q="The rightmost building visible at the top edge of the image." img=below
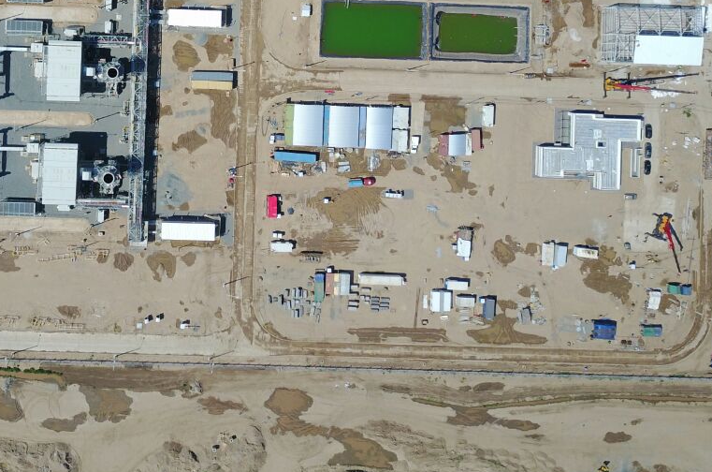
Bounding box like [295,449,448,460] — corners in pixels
[587,4,705,67]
